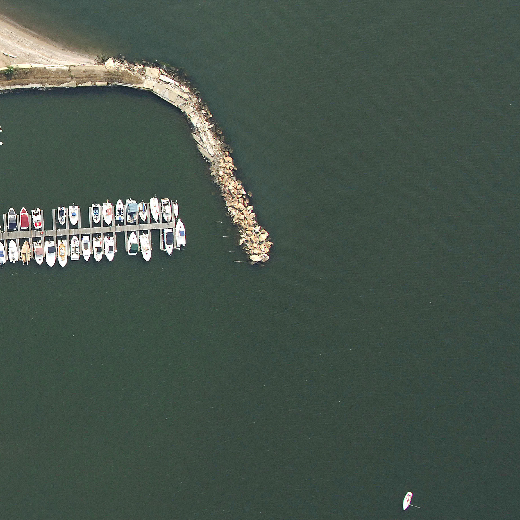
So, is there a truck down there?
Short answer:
No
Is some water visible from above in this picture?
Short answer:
Yes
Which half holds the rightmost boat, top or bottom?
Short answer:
bottom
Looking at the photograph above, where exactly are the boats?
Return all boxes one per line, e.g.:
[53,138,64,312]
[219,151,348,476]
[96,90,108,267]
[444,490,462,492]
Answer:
[70,235,80,260]
[57,205,65,226]
[93,235,102,262]
[175,218,185,249]
[103,201,113,226]
[32,207,42,229]
[128,232,138,255]
[58,237,68,267]
[164,229,175,256]
[126,197,137,223]
[19,207,28,229]
[33,239,43,265]
[0,242,6,266]
[82,236,90,262]
[115,199,123,223]
[8,240,18,265]
[7,207,17,232]
[69,203,78,226]
[91,202,100,223]
[138,201,147,222]
[20,241,31,264]
[104,235,114,261]
[45,239,56,267]
[160,198,172,224]
[402,492,425,515]
[151,198,161,223]
[172,201,179,217]
[139,233,151,261]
